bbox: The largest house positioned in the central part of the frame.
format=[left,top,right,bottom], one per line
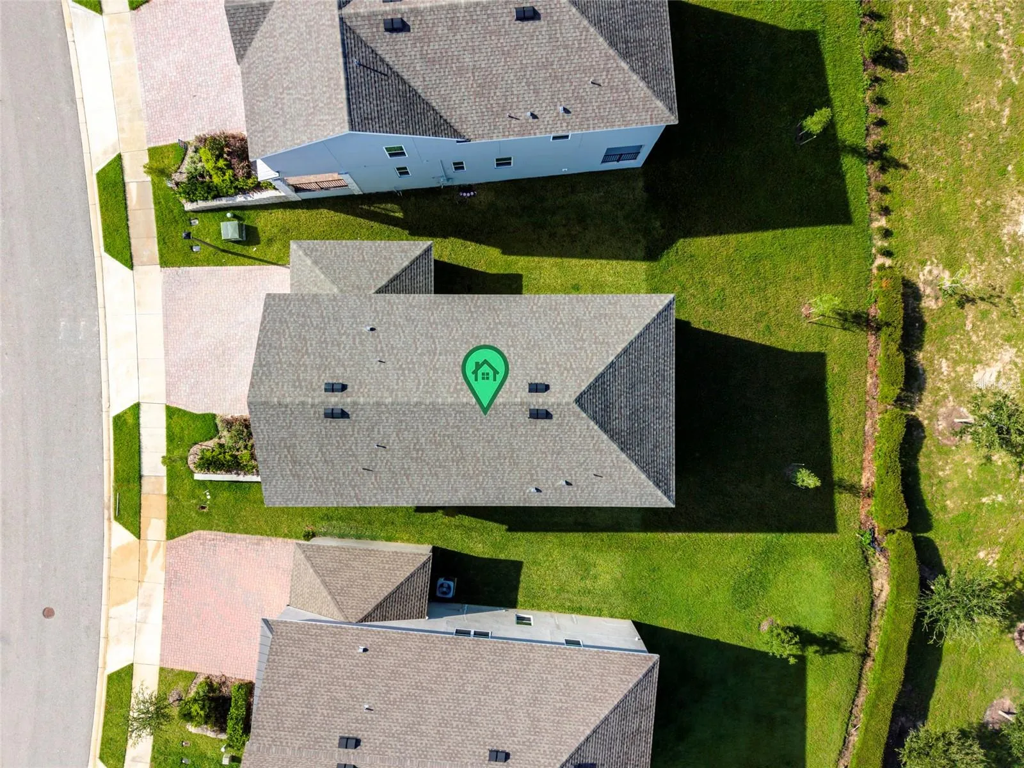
[248,239,676,509]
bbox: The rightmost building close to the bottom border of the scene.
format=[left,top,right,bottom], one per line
[249,535,660,768]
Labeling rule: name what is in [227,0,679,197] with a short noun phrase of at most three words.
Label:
house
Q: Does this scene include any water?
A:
No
